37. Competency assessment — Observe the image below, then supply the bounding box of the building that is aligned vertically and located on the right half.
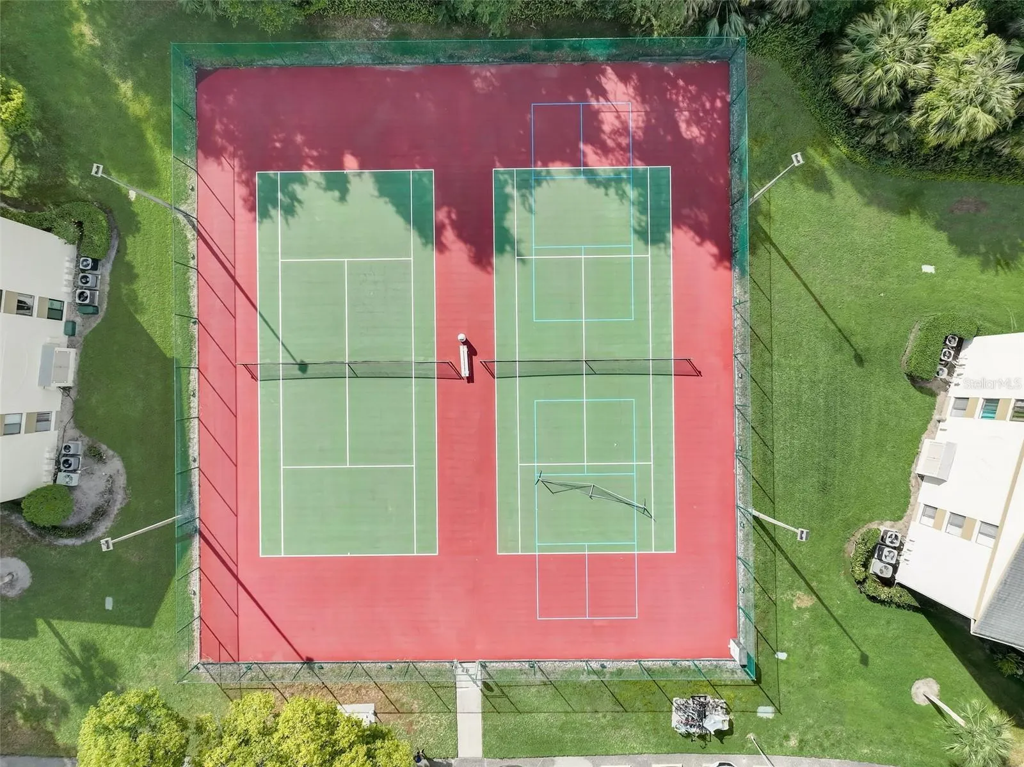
[895,331,1024,645]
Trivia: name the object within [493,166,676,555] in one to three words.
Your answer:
tennis court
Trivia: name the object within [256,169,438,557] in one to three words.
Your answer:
tennis court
